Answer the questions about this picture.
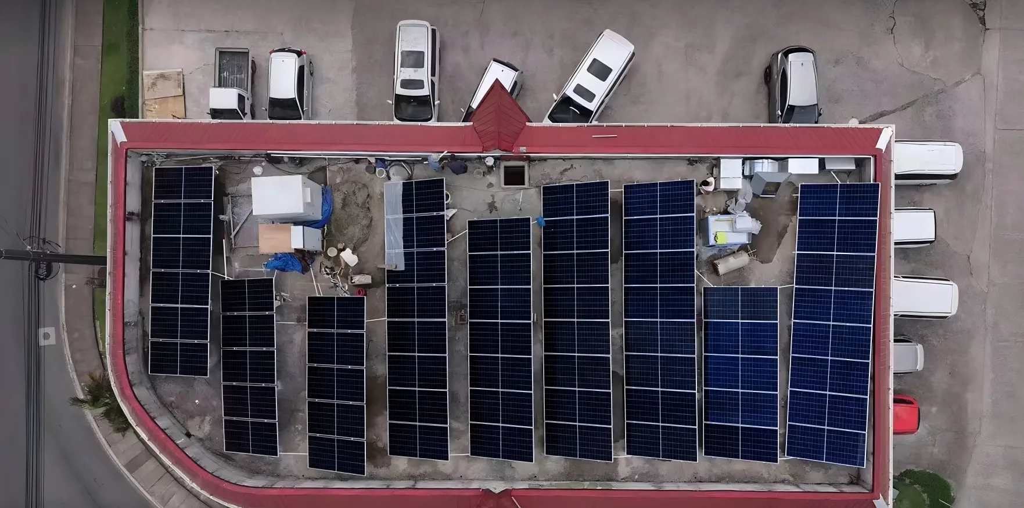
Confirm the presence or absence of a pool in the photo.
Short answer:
No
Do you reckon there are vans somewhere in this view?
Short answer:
Yes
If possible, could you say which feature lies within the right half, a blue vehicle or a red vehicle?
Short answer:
red vehicle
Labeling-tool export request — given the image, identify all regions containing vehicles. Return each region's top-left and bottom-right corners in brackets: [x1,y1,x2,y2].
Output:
[457,60,524,120]
[389,22,441,120]
[267,47,316,118]
[763,48,817,123]
[897,333,923,374]
[897,275,956,320]
[898,141,961,188]
[898,206,933,249]
[207,47,258,118]
[547,32,632,121]
[896,390,919,433]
